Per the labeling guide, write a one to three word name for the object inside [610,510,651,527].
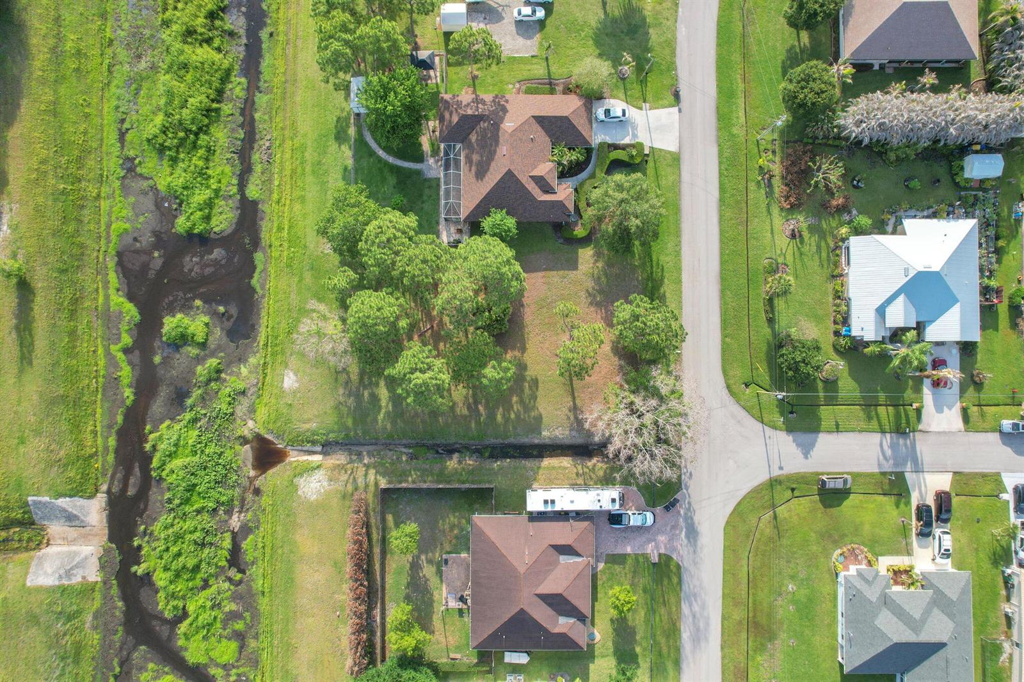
vehicle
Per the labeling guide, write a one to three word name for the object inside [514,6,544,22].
car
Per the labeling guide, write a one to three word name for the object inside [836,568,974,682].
house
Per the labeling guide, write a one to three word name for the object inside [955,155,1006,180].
shed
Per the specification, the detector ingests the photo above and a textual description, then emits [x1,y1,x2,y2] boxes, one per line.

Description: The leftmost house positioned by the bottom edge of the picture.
[470,514,595,651]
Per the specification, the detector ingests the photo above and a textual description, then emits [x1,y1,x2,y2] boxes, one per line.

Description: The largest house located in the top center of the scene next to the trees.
[439,95,593,222]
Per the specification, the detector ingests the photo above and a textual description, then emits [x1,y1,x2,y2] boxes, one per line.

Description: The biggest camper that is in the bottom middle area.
[527,485,621,511]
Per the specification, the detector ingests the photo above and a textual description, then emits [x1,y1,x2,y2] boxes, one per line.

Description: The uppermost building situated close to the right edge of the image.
[838,0,978,69]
